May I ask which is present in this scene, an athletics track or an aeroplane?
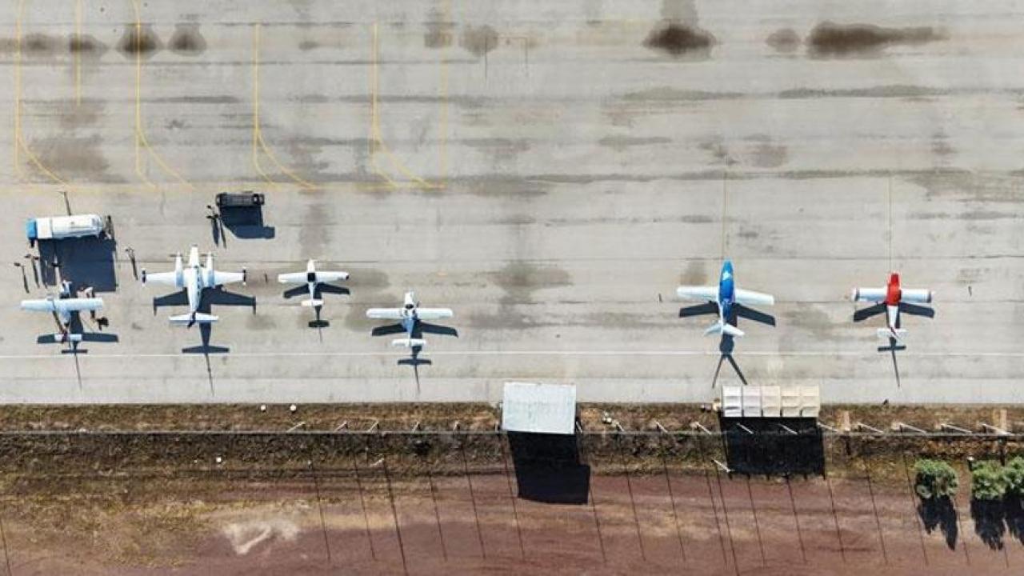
aeroplane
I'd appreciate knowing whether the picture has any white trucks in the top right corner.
No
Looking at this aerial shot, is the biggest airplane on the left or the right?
left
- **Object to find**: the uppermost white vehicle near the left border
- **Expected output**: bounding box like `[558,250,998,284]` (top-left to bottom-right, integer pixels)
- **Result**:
[27,216,110,245]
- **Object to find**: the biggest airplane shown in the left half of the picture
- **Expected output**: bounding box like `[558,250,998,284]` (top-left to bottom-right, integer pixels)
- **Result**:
[140,245,247,329]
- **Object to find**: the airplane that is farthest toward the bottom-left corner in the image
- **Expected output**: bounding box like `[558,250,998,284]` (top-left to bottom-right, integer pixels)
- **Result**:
[18,277,107,346]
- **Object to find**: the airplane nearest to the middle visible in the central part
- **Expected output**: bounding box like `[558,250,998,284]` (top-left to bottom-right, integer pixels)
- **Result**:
[366,289,453,348]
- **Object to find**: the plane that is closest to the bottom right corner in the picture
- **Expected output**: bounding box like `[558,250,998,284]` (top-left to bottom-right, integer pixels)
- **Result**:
[855,269,934,335]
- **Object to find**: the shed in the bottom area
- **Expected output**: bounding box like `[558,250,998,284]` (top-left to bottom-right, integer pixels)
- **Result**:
[502,381,576,434]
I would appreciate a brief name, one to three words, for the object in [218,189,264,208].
car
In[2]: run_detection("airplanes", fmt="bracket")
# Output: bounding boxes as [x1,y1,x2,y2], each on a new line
[18,277,107,346]
[366,289,453,348]
[678,260,774,338]
[277,257,348,309]
[140,245,247,329]
[855,269,934,335]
